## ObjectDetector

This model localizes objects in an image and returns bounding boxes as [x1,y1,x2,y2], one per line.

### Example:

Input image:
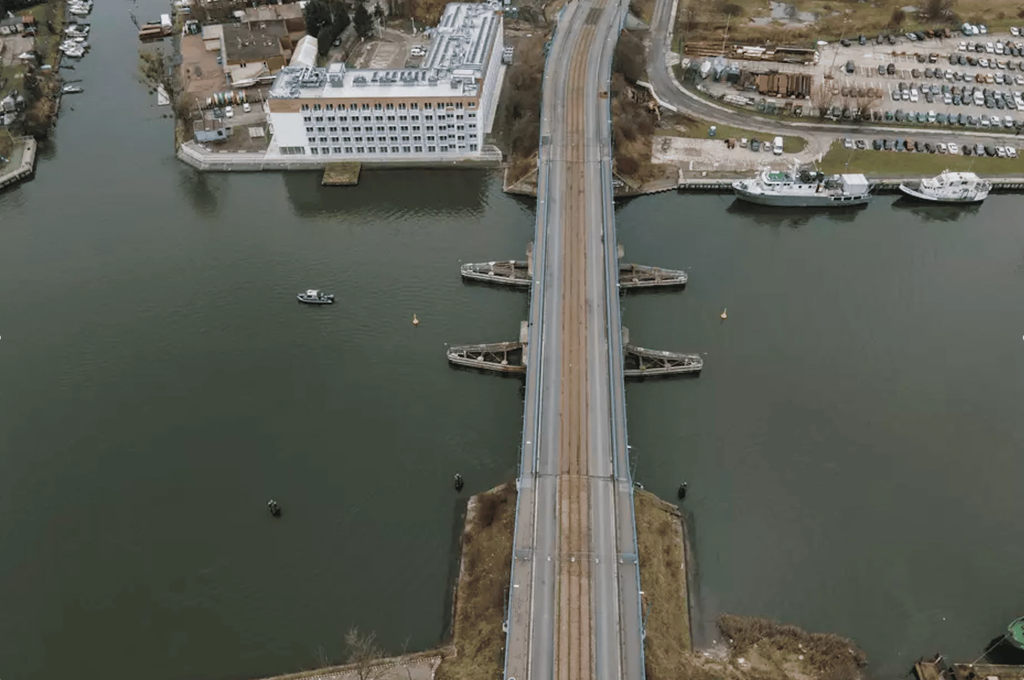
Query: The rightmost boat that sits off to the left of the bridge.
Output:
[296,288,336,307]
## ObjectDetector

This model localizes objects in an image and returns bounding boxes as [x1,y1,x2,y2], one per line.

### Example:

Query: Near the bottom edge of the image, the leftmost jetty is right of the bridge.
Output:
[910,651,950,680]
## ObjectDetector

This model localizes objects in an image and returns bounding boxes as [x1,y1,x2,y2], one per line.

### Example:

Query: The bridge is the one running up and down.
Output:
[505,0,647,680]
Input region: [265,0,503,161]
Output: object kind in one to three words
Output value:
building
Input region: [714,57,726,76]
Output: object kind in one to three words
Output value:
boat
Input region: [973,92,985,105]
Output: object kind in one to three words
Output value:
vehicle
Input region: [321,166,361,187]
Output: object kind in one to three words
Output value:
pier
